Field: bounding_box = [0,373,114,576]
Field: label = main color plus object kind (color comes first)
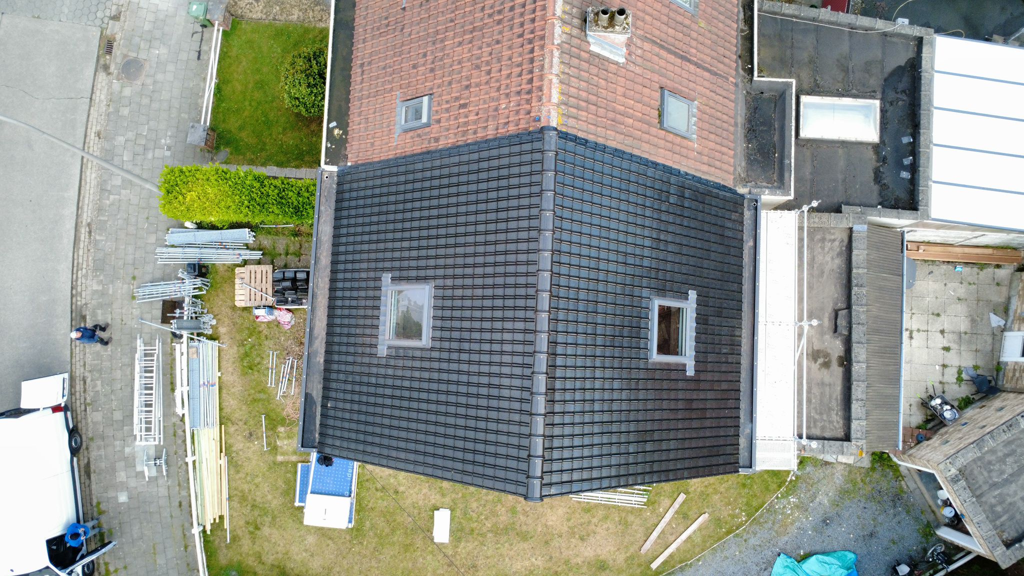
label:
white van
